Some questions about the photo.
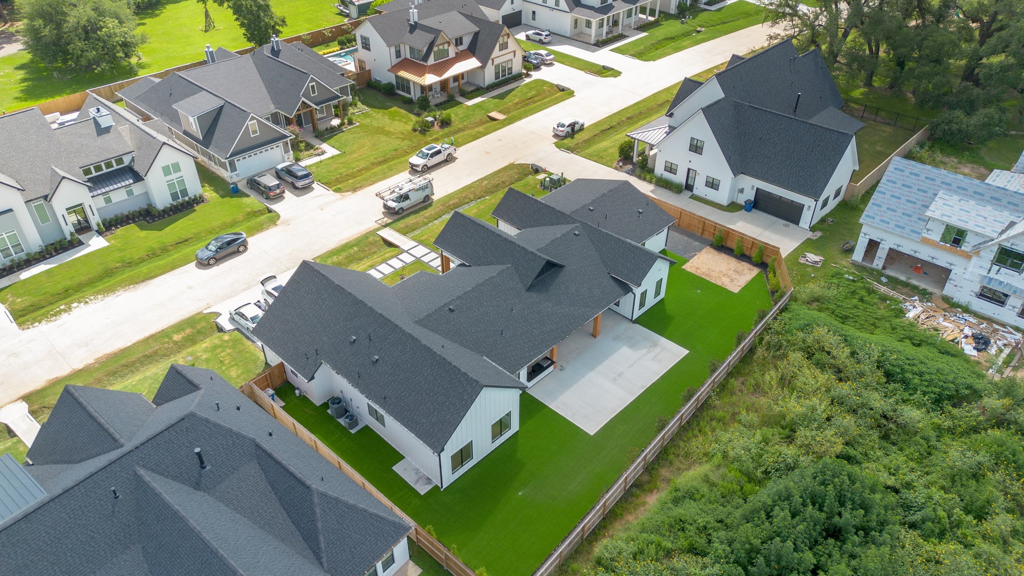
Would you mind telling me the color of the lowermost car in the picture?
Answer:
white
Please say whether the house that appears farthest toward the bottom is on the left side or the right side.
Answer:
left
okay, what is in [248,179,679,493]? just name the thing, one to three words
house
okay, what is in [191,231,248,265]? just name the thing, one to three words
car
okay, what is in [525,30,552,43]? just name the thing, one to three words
vehicle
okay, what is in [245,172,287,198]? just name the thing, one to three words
car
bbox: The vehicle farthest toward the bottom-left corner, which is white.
[227,299,266,333]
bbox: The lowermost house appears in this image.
[0,362,417,576]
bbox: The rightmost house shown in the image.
[850,143,1024,328]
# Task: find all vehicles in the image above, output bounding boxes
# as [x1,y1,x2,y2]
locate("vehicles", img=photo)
[525,30,552,43]
[407,143,455,172]
[523,51,542,68]
[191,231,248,265]
[553,119,584,136]
[227,299,266,333]
[530,50,554,63]
[274,163,314,188]
[259,270,288,304]
[245,172,287,198]
[377,170,434,214]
